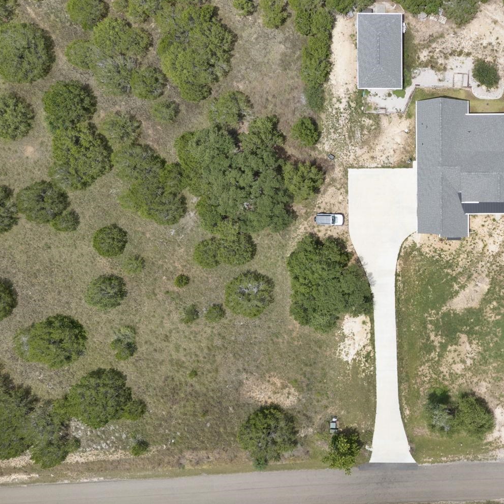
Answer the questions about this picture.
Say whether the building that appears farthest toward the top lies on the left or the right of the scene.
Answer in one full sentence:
It is on the right.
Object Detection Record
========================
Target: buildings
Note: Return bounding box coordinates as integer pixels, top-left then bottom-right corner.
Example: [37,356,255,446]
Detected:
[415,98,504,240]
[357,12,403,90]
